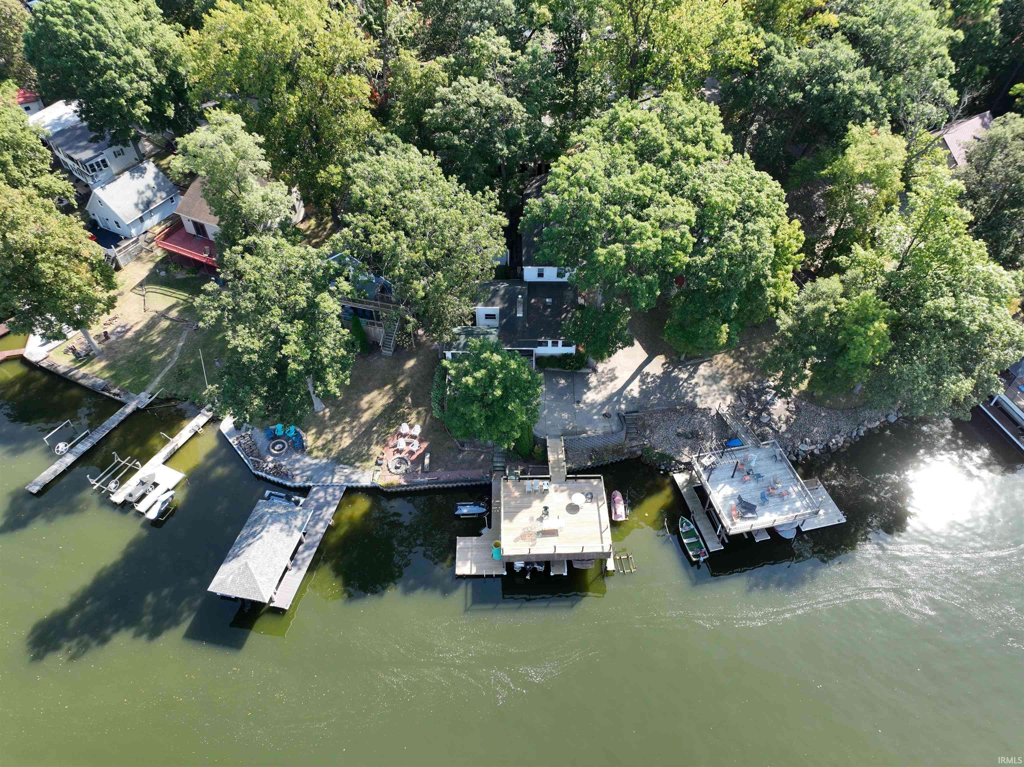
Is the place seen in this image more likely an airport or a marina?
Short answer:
marina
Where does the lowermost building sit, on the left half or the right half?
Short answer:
left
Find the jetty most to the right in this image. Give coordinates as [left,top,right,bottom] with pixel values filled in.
[797,482,854,536]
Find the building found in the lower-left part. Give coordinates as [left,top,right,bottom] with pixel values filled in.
[207,499,316,619]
